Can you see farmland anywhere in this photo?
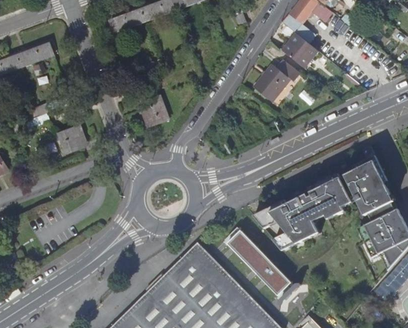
No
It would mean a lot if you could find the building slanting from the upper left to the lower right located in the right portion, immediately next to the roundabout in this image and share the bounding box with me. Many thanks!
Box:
[224,228,293,298]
